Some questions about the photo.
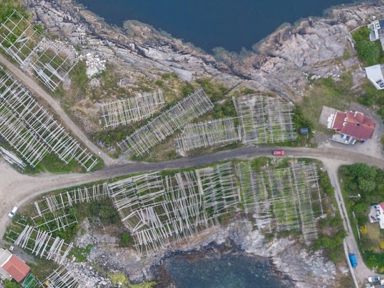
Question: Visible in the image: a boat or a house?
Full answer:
It is a house that can be seen here.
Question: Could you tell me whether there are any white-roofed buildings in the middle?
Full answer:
No, I can find no white-roofed building in the middle.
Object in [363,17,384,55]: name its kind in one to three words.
house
